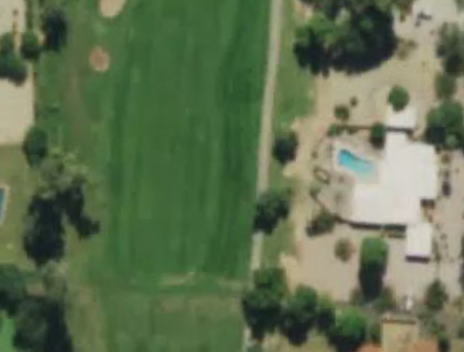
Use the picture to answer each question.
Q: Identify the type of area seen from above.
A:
golf course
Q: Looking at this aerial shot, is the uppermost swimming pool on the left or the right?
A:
right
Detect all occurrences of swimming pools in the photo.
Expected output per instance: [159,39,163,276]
[337,149,375,178]
[0,185,7,222]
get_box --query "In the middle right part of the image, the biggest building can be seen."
[351,134,438,257]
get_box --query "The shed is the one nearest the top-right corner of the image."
[387,107,418,130]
